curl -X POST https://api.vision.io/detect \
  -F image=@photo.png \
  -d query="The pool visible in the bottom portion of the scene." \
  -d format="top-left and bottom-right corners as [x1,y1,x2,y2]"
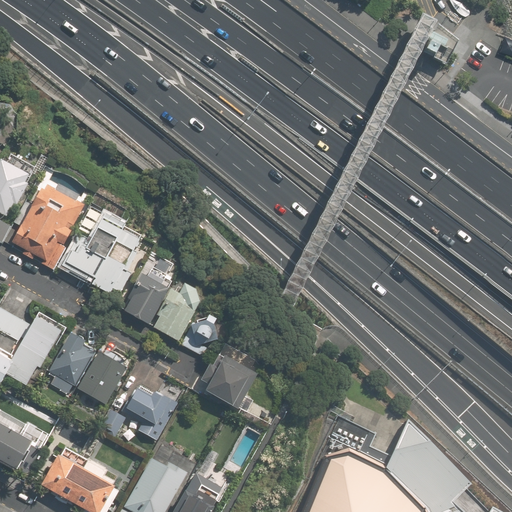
[224,426,262,470]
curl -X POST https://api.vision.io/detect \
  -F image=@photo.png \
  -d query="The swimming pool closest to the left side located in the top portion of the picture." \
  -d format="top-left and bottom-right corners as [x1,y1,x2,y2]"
[50,170,86,196]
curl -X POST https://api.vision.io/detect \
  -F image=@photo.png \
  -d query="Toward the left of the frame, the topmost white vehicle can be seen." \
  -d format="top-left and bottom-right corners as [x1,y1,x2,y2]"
[62,20,80,34]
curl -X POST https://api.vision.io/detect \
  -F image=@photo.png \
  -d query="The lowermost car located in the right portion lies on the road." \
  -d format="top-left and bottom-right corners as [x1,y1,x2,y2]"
[449,348,464,361]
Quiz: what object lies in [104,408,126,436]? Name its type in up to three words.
shed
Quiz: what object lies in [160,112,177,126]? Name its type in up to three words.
vehicle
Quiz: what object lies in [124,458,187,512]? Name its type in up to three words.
house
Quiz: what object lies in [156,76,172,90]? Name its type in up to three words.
vehicle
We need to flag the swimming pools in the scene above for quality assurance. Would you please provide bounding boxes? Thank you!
[50,170,86,196]
[224,426,262,470]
